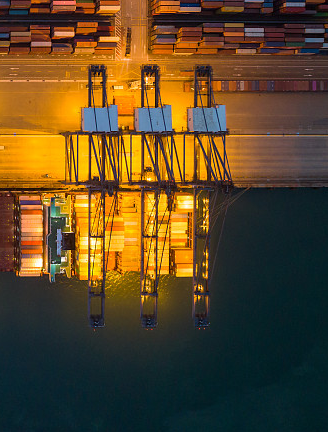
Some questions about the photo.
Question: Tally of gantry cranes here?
3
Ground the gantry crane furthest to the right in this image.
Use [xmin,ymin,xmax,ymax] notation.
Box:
[158,66,237,330]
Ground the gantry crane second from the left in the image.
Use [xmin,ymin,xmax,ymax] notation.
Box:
[105,66,179,330]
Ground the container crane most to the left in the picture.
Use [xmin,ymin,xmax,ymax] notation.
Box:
[54,66,124,330]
